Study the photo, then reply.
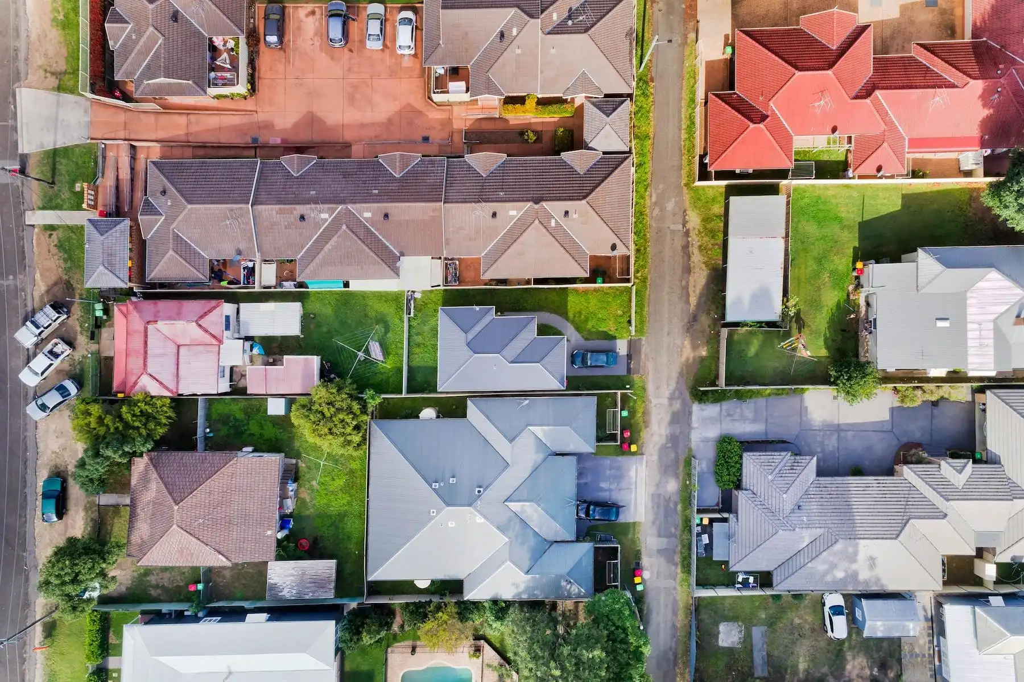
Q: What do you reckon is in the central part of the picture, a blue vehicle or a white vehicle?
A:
blue vehicle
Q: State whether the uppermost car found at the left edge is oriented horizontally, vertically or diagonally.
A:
diagonally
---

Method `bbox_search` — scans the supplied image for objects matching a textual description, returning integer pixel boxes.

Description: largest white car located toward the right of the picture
[819,593,845,639]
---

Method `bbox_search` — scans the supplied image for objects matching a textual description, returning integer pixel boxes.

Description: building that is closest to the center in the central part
[437,305,568,392]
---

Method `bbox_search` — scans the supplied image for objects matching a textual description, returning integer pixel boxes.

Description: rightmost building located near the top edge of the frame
[707,0,1024,175]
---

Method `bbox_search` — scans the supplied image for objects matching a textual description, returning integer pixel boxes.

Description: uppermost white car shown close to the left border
[16,302,70,348]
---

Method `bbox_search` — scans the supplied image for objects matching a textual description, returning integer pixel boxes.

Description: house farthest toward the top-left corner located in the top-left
[104,0,249,100]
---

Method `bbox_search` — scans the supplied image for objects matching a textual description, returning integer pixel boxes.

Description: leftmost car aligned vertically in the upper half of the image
[263,5,285,51]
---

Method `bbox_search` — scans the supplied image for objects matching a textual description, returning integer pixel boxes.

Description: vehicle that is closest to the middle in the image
[570,348,618,370]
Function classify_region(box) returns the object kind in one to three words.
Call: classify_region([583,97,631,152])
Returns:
building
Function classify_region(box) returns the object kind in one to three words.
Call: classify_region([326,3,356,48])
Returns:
car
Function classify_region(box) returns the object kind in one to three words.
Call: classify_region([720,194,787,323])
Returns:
shed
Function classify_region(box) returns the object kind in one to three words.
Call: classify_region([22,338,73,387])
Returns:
car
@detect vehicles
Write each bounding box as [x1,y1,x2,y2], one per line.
[16,302,70,348]
[42,477,68,522]
[29,379,81,420]
[819,593,845,639]
[570,348,618,370]
[22,338,73,387]
[263,5,285,51]
[326,3,356,48]
[394,11,417,58]
[578,499,622,521]
[364,4,386,52]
